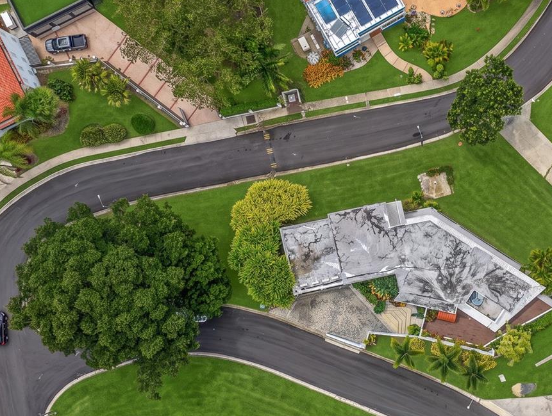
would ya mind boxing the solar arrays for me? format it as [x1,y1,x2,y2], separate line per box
[366,0,386,18]
[332,0,352,16]
[382,0,398,10]
[331,18,349,38]
[349,0,373,26]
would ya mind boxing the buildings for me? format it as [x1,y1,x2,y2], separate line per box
[0,18,50,143]
[305,0,406,57]
[9,0,97,36]
[281,200,547,334]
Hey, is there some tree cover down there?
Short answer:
Yes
